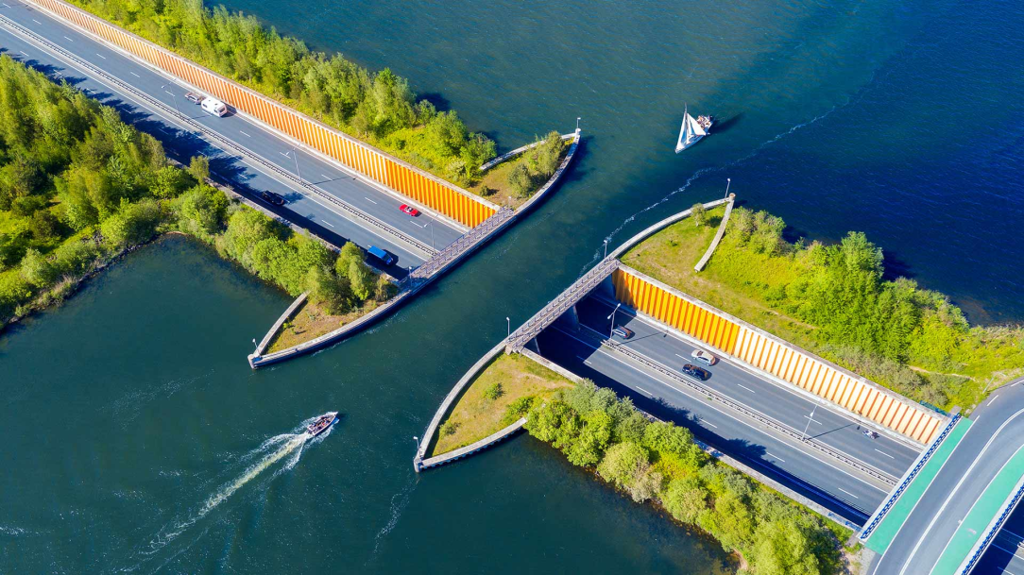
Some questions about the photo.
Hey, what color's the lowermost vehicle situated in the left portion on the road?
blue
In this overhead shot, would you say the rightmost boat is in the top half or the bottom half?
top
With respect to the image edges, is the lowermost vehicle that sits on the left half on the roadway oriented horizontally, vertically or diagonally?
diagonally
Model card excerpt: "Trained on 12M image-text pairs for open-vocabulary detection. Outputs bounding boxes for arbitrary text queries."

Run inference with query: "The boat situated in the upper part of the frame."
[671,102,715,152]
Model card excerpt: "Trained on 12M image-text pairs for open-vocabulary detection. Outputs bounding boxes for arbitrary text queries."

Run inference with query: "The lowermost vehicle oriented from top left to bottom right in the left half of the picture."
[365,240,396,266]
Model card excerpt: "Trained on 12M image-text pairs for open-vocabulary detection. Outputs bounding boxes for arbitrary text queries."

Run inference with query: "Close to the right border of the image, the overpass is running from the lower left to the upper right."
[849,378,1024,575]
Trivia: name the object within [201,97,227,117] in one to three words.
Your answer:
camper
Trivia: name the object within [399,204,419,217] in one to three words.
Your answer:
vehicle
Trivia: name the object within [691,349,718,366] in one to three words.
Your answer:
car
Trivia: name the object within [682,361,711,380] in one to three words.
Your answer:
car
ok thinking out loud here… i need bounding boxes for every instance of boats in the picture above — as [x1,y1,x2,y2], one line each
[305,411,339,439]
[671,102,715,152]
